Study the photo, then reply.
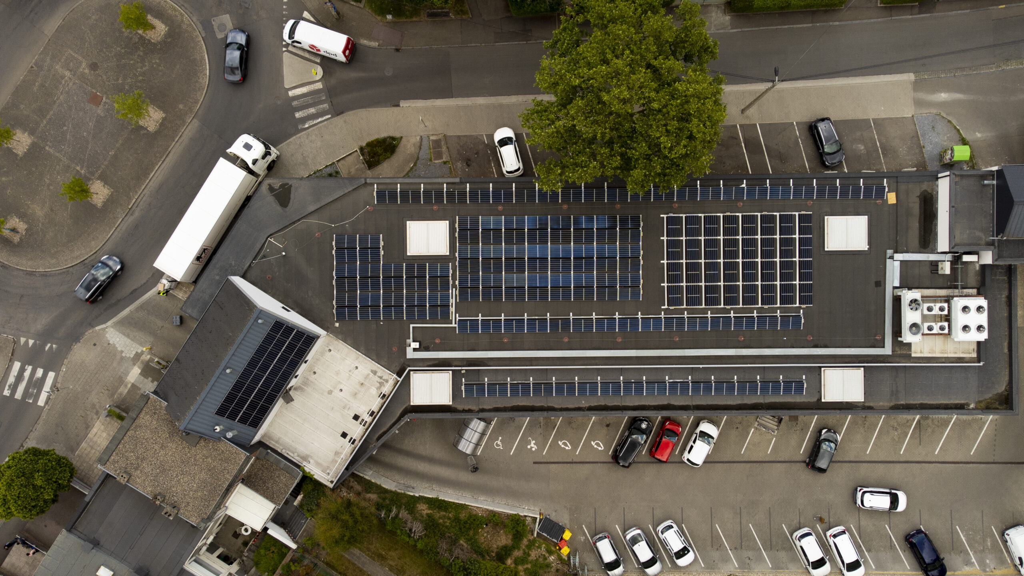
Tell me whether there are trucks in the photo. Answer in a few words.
Yes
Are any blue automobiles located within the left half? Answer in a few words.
No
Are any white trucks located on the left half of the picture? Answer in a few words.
Yes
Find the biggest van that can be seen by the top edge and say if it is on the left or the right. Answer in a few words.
left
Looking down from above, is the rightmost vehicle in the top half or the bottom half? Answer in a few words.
bottom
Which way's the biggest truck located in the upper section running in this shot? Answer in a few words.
on a diagonal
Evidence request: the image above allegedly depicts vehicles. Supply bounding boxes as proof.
[809,116,846,169]
[851,485,906,514]
[223,30,252,85]
[612,418,650,468]
[657,516,695,568]
[594,528,630,576]
[681,419,718,468]
[825,522,867,576]
[904,526,947,576]
[153,127,284,281]
[998,520,1024,575]
[494,128,523,178]
[792,523,833,576]
[76,255,125,305]
[284,18,360,65]
[804,426,840,473]
[625,523,663,576]
[649,419,682,463]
